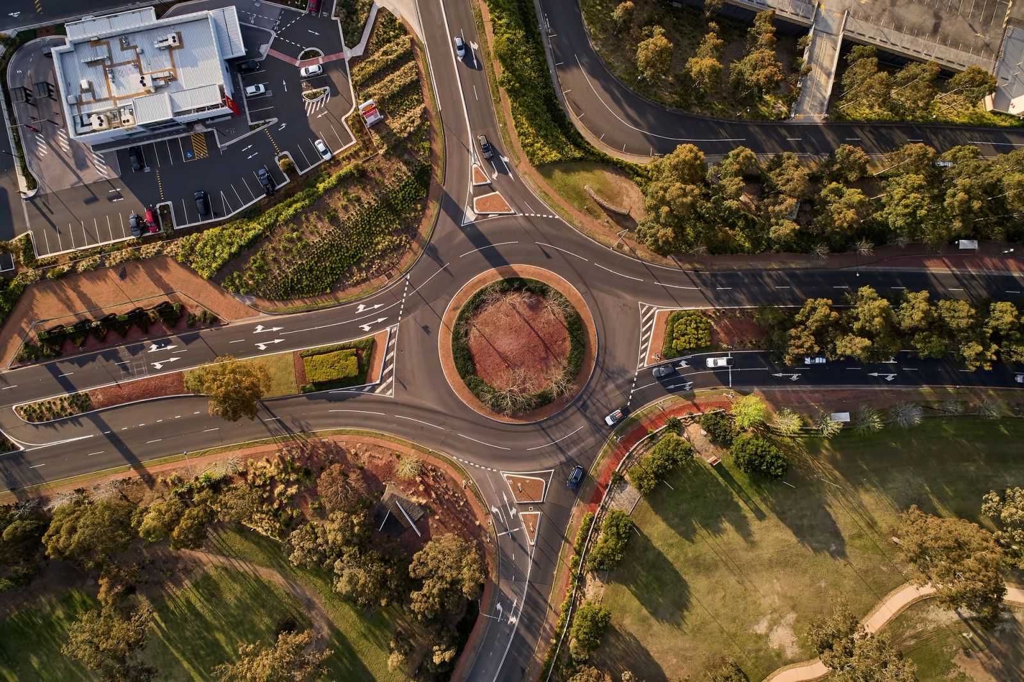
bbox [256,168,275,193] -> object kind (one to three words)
car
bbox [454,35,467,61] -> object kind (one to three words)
vehicle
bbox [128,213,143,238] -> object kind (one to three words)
car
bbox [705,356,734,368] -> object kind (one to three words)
vehicle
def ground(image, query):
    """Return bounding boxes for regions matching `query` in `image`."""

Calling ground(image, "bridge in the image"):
[793,0,852,117]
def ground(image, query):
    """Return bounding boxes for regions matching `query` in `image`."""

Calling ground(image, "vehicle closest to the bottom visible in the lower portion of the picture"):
[567,464,584,489]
